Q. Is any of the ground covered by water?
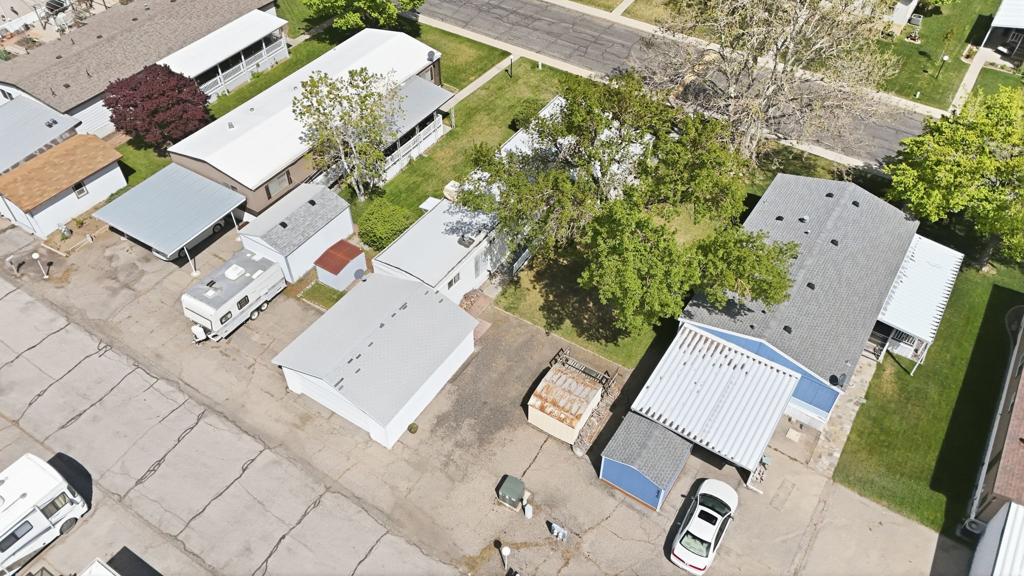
No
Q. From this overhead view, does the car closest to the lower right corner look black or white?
white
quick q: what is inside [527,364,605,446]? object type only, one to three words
shed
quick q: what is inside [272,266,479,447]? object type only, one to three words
building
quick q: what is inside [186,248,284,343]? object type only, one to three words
trailer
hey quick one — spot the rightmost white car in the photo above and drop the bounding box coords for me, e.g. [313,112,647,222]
[673,477,734,576]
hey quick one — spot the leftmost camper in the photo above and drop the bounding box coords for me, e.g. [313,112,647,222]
[0,456,90,576]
